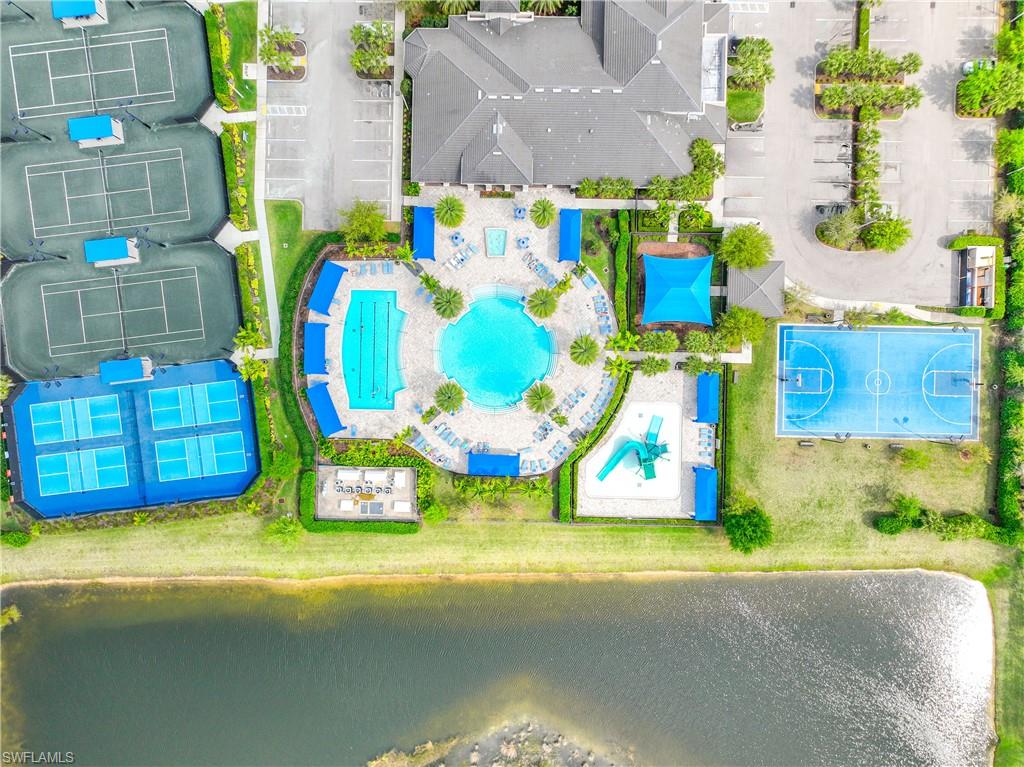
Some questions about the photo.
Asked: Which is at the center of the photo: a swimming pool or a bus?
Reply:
swimming pool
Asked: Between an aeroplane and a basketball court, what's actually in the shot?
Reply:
basketball court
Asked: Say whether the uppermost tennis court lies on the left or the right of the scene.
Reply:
left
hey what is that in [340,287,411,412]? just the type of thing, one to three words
swimming pool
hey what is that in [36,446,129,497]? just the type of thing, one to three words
sports court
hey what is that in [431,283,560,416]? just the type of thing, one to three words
swimming pool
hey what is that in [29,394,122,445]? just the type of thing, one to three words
sports court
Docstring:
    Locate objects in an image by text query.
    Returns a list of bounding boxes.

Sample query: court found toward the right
[777,324,980,440]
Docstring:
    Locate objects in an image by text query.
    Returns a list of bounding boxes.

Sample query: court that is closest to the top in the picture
[0,0,205,141]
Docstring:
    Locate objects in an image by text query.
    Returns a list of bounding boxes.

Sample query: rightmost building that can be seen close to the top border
[404,0,732,195]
